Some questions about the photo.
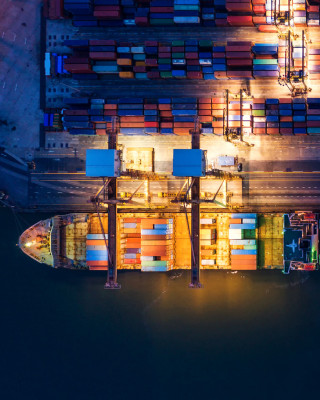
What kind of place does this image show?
port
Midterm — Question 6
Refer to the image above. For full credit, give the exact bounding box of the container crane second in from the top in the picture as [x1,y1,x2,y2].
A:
[286,29,314,96]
